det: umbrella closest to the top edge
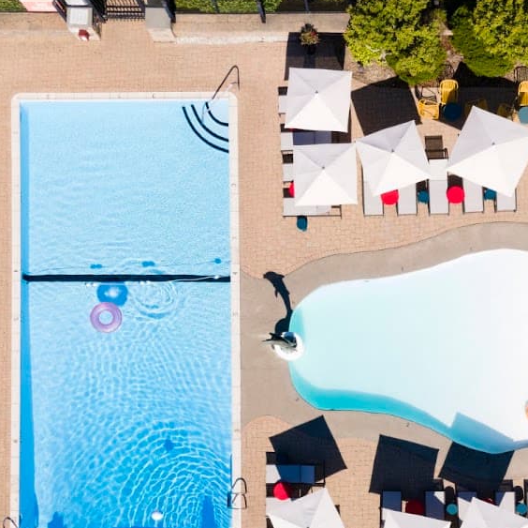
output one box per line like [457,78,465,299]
[283,66,351,133]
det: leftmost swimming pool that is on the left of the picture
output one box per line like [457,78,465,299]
[7,92,240,528]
